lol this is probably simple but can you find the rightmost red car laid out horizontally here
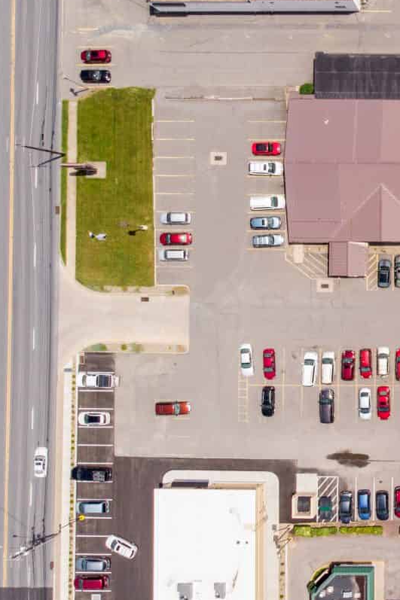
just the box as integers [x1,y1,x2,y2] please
[252,141,281,155]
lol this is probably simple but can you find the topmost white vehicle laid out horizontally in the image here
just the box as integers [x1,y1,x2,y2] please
[248,160,282,175]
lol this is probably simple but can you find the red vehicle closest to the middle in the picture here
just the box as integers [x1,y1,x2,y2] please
[161,232,193,246]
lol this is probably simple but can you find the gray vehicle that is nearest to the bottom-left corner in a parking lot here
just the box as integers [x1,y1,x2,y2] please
[78,556,111,573]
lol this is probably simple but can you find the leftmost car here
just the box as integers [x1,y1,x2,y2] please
[32,446,49,478]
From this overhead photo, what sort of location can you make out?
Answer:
parking lot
